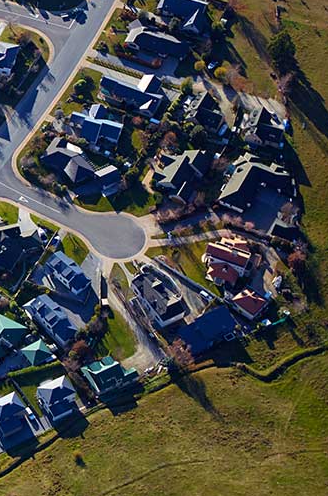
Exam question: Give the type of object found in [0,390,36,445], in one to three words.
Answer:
house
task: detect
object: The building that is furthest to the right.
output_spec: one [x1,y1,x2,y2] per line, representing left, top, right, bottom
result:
[272,217,300,245]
